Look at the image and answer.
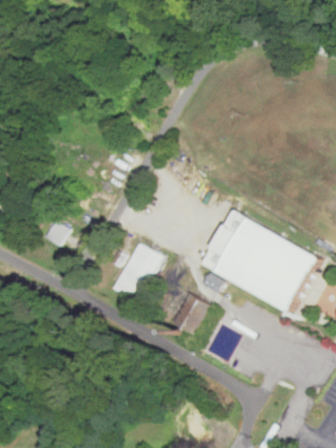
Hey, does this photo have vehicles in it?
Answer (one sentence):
Yes, the photo shows a vehicle.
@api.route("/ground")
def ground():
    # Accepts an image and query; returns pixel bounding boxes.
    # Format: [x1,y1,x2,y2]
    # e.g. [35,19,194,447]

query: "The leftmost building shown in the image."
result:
[46,220,74,248]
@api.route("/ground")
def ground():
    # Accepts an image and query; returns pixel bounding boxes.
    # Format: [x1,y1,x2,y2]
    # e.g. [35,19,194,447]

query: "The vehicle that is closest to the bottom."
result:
[261,424,279,448]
